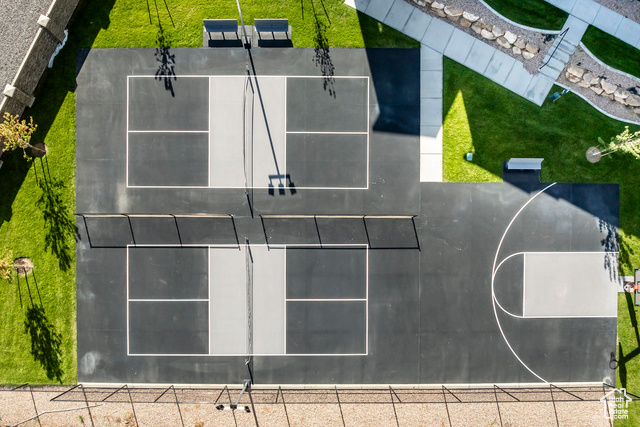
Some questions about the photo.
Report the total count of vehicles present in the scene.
zero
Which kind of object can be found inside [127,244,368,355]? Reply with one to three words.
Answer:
sports court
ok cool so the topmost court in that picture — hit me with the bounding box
[127,76,369,189]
